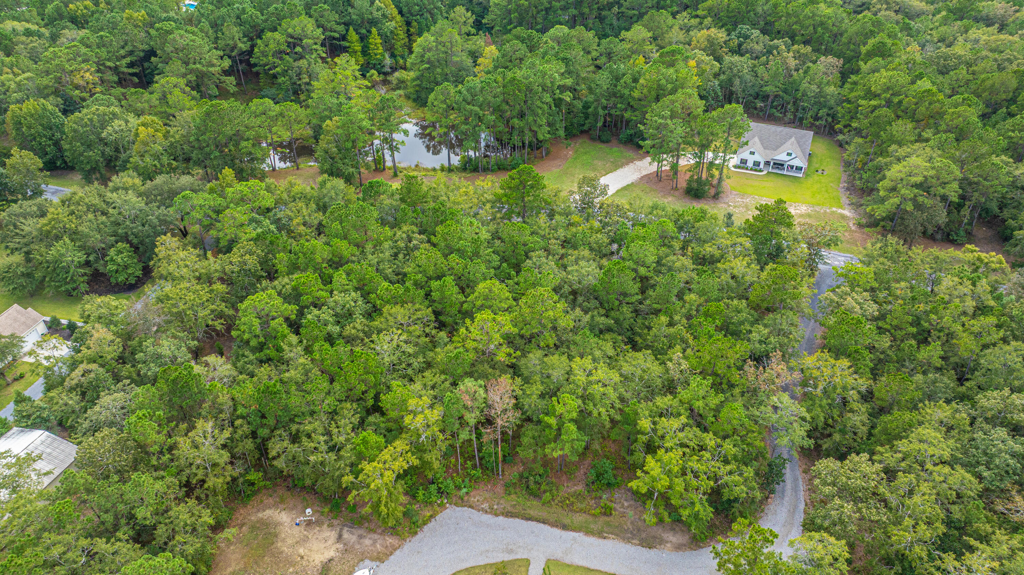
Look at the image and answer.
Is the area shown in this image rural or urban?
rural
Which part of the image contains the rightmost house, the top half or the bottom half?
top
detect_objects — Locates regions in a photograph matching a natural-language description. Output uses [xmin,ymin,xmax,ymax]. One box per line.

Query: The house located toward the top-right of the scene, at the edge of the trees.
[736,122,818,177]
